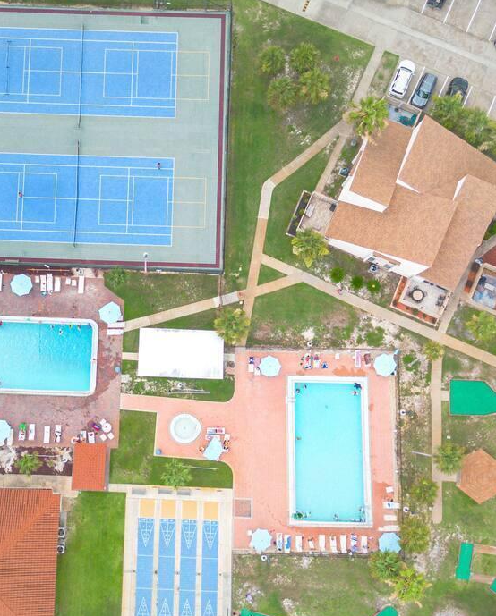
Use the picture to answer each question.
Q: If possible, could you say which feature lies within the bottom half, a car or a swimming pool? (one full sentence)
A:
There is a swimming pool within the bottom half.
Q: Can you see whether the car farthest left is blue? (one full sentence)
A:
No, the color of the car farthest left is white.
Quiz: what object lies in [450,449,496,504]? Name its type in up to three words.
gazebo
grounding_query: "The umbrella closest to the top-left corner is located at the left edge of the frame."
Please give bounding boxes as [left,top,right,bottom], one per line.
[10,274,33,295]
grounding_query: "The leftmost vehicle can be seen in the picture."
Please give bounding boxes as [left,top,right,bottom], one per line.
[387,59,415,100]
